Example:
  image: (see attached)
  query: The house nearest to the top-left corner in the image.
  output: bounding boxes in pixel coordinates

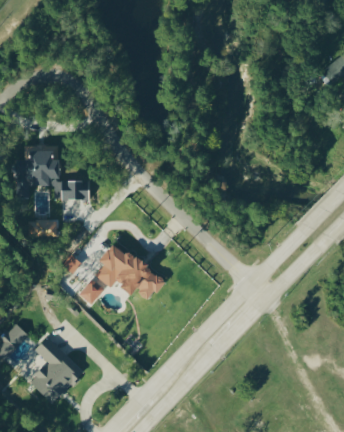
[28,150,62,193]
